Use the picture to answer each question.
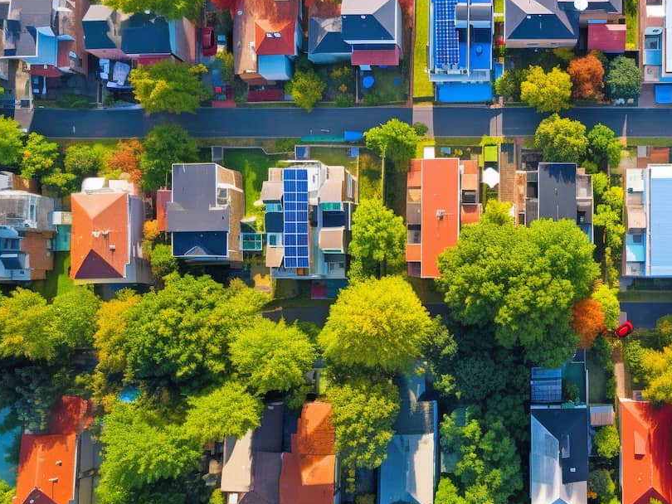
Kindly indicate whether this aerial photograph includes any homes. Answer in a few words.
Yes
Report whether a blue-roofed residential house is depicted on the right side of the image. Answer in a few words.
Yes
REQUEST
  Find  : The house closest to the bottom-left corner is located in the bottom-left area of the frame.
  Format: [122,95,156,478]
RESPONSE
[13,393,110,504]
